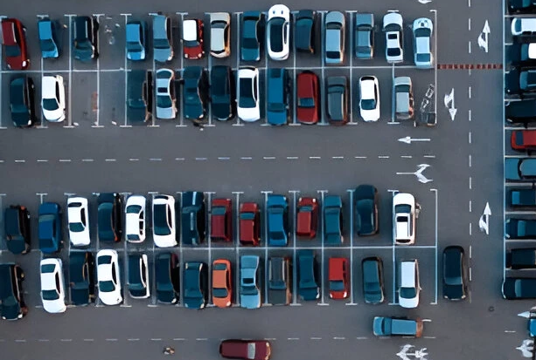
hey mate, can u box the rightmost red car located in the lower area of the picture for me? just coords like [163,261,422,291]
[326,258,348,299]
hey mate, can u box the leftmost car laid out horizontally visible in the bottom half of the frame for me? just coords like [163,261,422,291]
[220,339,272,360]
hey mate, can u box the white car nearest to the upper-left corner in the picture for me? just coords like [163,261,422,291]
[39,75,65,122]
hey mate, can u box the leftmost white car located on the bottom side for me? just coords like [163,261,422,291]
[36,258,66,313]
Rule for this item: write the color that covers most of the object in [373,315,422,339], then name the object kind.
blue car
